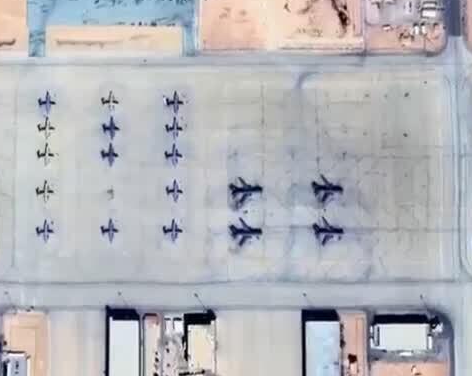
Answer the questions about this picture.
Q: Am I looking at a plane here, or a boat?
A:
plane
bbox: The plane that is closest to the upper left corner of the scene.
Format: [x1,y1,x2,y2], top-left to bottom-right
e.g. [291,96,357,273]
[39,92,56,115]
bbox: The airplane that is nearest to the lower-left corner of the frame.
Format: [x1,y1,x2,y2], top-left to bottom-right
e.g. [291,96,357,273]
[38,221,54,244]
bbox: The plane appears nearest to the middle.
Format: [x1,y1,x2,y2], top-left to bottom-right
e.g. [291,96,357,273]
[232,179,262,206]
